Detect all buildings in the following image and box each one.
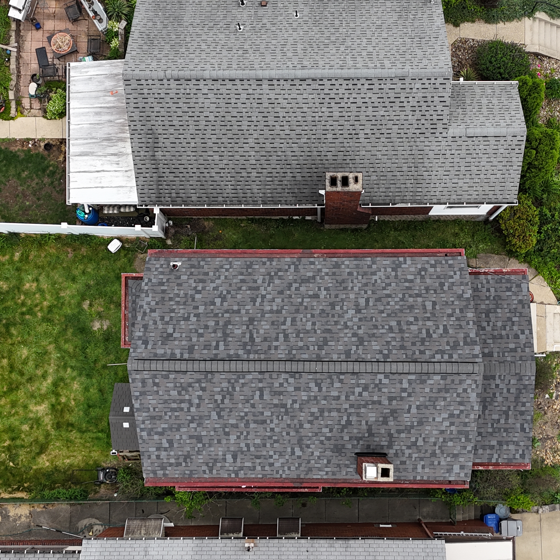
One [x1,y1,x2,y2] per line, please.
[109,249,537,494]
[0,518,515,560]
[64,0,526,231]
